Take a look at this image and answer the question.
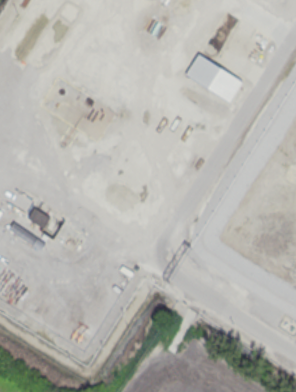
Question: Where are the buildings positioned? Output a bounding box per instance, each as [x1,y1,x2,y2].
[186,54,242,101]
[26,206,50,227]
